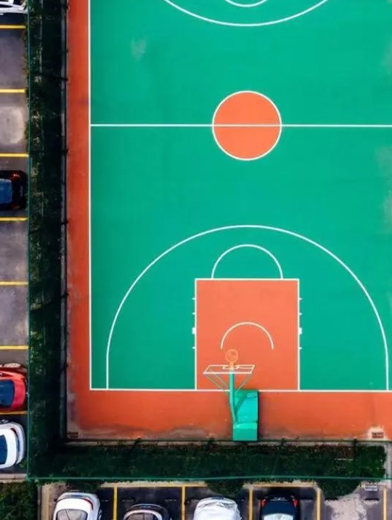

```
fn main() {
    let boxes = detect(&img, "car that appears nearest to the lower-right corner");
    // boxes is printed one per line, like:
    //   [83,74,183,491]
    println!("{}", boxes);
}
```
[258,481,301,520]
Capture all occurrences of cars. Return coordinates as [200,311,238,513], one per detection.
[258,481,301,520]
[0,168,31,211]
[50,480,102,520]
[0,416,30,467]
[0,358,33,408]
[196,484,244,520]
[121,496,168,520]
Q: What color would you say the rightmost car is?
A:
black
